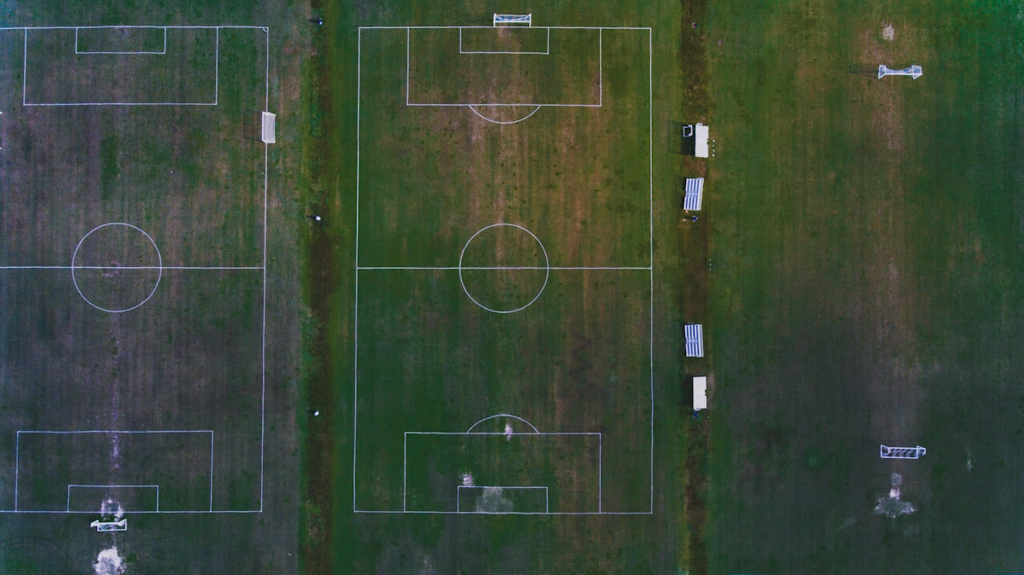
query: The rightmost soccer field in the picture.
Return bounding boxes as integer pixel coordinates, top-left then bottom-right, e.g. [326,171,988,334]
[724,17,1024,547]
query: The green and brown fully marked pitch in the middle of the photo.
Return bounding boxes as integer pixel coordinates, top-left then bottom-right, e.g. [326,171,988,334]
[341,17,664,522]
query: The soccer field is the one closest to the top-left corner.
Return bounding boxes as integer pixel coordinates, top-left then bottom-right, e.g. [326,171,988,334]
[0,17,282,522]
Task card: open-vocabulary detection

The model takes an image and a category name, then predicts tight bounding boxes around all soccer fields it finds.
[341,17,664,522]
[724,17,1024,547]
[0,17,282,522]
